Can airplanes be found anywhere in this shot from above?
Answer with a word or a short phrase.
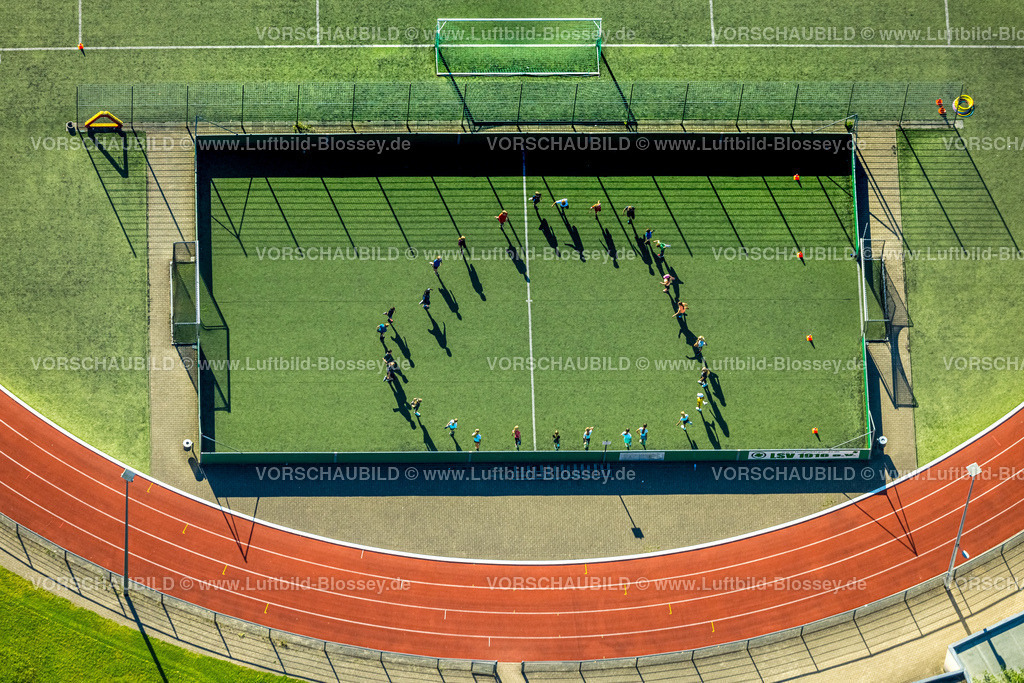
No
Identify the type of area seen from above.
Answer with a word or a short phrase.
sports ground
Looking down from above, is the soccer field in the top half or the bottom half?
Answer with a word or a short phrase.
top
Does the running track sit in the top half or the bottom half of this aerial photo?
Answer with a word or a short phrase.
bottom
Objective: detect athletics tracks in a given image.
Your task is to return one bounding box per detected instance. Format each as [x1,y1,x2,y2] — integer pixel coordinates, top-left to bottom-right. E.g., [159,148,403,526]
[0,383,1024,664]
